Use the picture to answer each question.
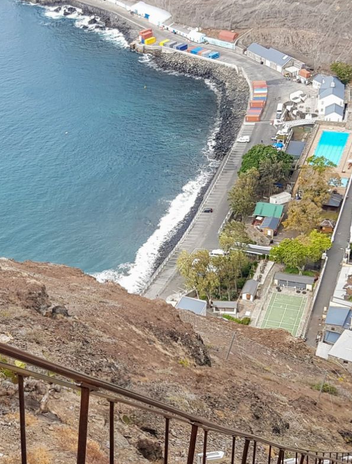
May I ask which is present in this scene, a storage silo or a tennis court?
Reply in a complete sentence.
The image shows a tennis court.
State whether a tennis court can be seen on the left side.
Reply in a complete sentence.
No, I see no tennis court on the left side.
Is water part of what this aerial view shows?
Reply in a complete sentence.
Yes, there is water in the image.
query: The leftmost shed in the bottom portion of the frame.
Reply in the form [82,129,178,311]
[174,293,212,323]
